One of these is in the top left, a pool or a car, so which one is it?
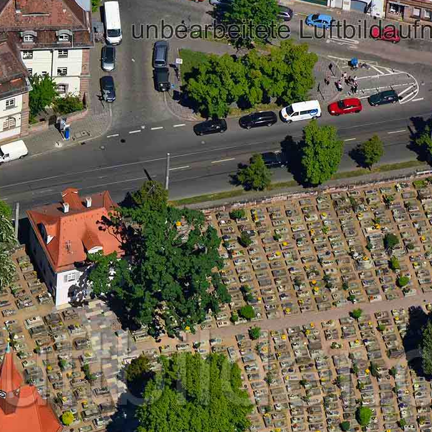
car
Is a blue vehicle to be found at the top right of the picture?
Yes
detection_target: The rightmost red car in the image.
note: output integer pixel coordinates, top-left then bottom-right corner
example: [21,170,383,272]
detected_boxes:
[369,26,402,44]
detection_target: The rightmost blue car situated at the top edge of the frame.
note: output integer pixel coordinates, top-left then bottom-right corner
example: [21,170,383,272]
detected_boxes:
[303,13,339,31]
